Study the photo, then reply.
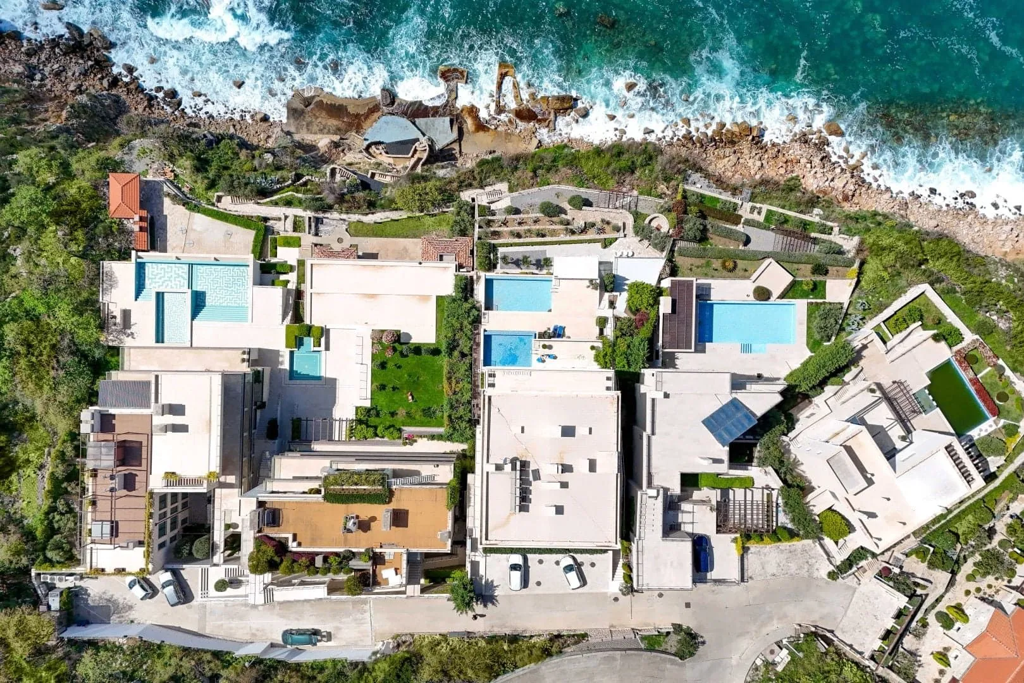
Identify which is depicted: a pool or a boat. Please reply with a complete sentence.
Visible in the photo is a pool.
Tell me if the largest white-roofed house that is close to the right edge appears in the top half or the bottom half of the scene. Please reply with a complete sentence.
The largest white-roofed house that is close to the right edge is in the bottom half of the image.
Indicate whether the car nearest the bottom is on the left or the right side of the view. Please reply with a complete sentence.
The car nearest the bottom appears in the left half of the scene.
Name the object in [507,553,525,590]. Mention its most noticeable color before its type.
white car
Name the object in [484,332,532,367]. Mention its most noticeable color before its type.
blue swimming pool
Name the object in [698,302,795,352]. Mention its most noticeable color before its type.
blue swimming pool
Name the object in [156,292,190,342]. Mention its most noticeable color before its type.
white swimming pool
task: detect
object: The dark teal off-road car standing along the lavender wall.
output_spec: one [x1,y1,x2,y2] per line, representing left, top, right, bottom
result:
[282,626,322,647]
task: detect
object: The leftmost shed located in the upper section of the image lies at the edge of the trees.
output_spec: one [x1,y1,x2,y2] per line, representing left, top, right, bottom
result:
[108,172,155,252]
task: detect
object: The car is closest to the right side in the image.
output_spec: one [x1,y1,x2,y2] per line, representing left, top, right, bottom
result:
[693,533,712,573]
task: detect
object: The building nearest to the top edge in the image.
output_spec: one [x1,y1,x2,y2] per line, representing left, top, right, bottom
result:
[364,116,462,174]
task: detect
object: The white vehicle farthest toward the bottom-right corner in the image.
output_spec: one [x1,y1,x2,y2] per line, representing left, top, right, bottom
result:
[560,553,583,592]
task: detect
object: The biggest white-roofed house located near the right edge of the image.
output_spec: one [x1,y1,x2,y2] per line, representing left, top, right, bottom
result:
[784,386,987,559]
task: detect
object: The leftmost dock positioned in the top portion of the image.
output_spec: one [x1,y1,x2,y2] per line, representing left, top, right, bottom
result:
[439,65,469,114]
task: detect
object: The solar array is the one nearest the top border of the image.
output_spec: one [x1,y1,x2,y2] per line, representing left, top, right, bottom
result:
[700,397,758,447]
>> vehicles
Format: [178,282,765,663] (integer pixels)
[282,626,322,647]
[127,574,157,604]
[560,553,583,592]
[693,533,712,573]
[507,553,525,590]
[158,566,186,609]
